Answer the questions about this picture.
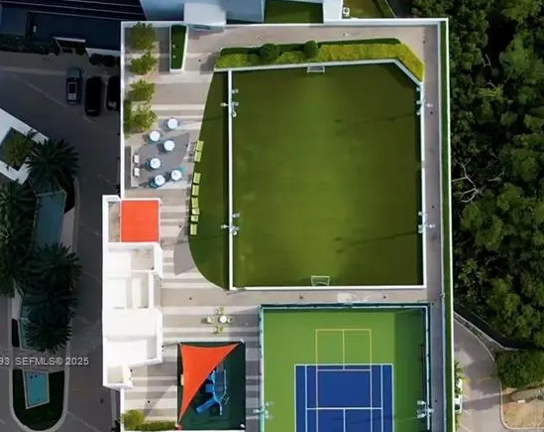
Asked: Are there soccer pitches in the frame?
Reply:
Yes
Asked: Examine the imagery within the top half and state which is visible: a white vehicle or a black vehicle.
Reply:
black vehicle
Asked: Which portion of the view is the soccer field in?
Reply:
center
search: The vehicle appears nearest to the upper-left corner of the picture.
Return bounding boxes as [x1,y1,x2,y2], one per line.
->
[65,67,84,106]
